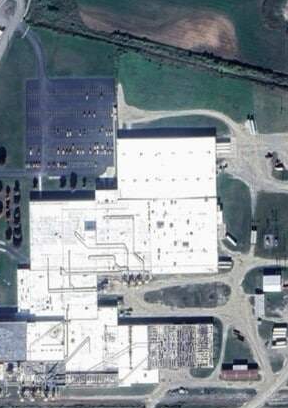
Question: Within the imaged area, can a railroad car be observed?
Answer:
No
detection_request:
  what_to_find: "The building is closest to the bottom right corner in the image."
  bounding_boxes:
[222,363,258,381]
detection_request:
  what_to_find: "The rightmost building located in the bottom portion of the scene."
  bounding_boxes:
[263,275,281,292]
